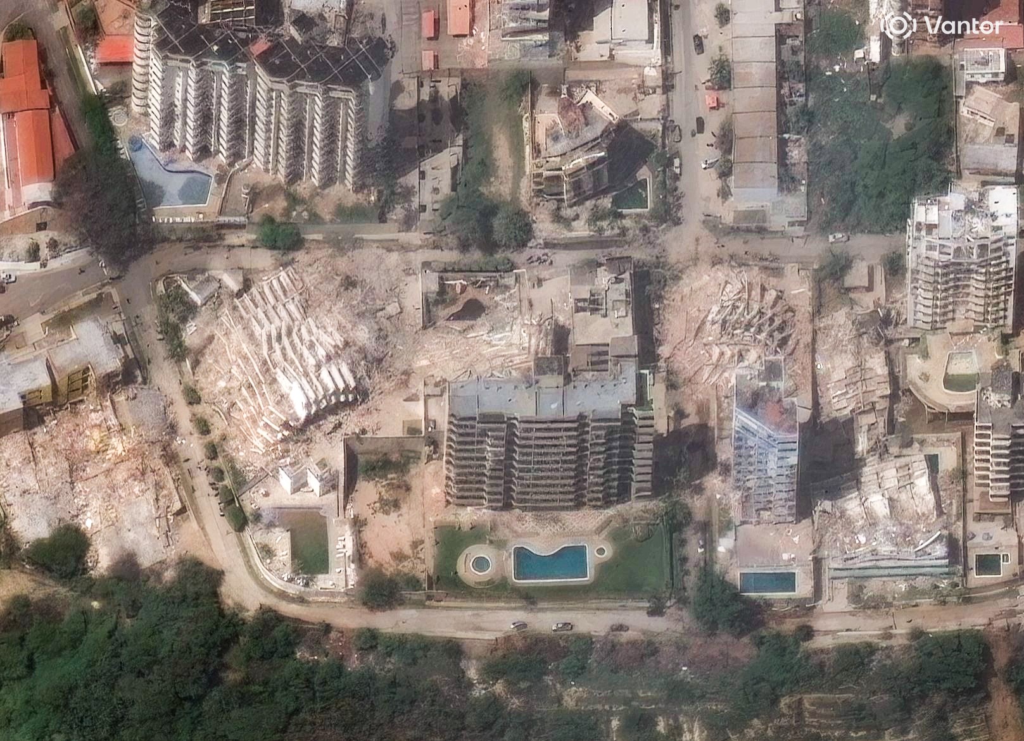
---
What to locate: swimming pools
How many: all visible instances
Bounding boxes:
[606,176,649,208]
[739,571,797,594]
[974,553,1002,577]
[129,137,213,208]
[291,521,329,575]
[511,544,590,582]
[595,546,606,558]
[1002,553,1010,564]
[469,552,493,575]
[943,350,980,392]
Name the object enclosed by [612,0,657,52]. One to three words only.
building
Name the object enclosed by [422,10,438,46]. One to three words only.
shed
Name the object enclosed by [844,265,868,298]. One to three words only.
house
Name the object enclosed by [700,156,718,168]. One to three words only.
vehicle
